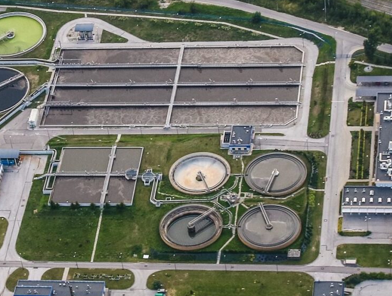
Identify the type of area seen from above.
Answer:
industrial area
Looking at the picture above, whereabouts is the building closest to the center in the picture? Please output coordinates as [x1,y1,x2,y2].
[229,125,254,153]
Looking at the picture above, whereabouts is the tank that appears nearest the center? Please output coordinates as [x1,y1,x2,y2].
[168,152,232,197]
